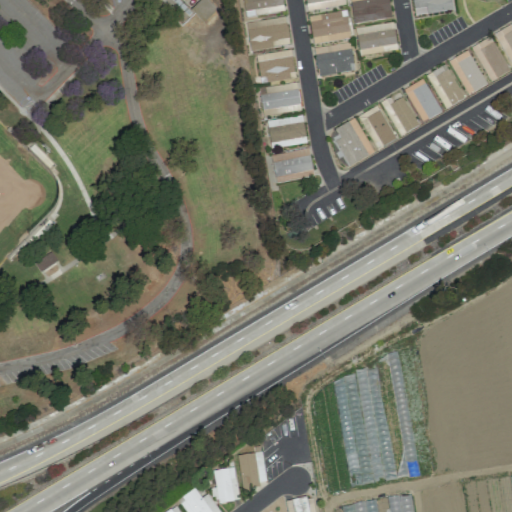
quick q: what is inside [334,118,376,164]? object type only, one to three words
house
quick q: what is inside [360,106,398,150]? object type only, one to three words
house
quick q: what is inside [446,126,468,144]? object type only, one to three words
camper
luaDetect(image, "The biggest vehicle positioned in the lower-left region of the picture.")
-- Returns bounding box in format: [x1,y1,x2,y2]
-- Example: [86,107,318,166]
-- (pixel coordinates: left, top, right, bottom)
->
[28,436,59,454]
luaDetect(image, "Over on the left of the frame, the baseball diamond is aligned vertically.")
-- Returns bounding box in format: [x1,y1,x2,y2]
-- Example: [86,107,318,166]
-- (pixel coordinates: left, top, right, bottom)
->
[0,122,59,261]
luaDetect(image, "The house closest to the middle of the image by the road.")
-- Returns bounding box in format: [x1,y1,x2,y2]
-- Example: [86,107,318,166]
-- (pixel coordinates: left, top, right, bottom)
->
[272,148,314,182]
